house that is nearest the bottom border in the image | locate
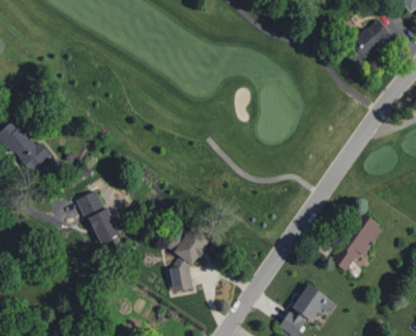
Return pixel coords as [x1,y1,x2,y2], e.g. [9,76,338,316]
[282,284,337,336]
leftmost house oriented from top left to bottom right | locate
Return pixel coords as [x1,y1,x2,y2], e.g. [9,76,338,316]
[0,123,53,169]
